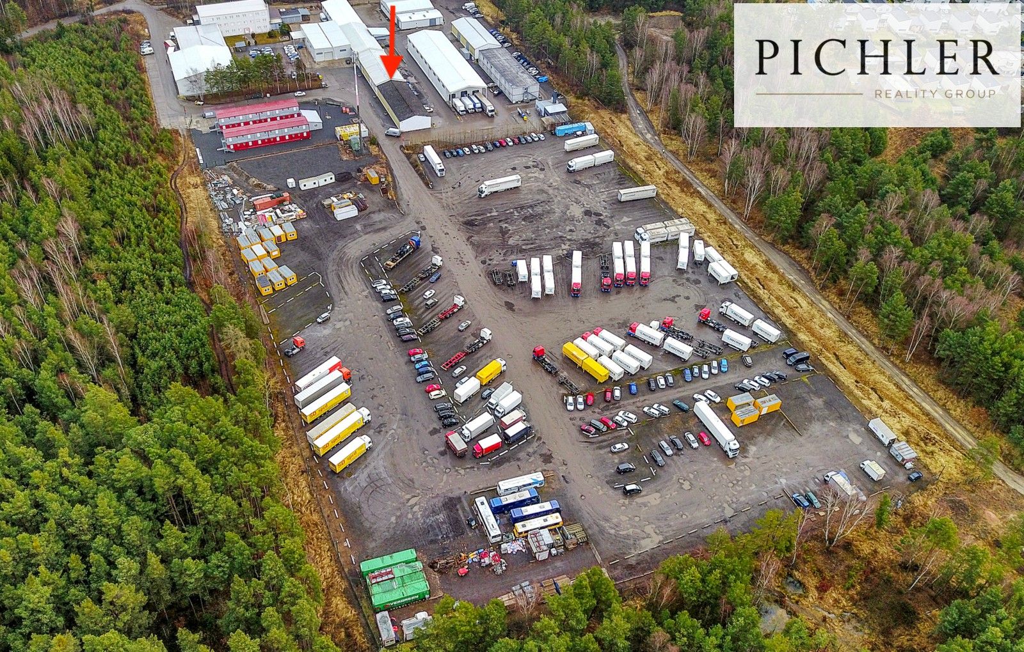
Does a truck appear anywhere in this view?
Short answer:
Yes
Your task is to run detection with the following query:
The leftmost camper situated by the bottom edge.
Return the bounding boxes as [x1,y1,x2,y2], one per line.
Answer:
[403,616,432,637]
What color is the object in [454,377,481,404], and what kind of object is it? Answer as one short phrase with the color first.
white vehicle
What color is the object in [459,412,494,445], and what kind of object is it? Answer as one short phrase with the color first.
white truck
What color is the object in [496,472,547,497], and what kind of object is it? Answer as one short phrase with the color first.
white bus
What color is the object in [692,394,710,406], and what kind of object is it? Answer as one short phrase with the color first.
white vehicle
